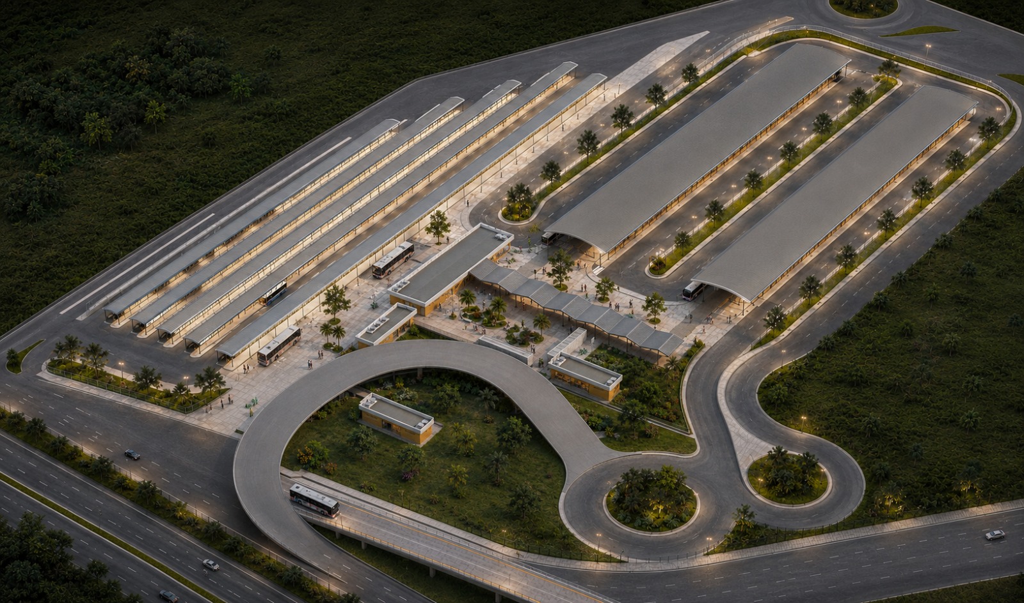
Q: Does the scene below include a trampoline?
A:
No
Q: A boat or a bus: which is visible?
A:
bus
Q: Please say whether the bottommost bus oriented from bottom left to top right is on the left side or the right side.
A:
left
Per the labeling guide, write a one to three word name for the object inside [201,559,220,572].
vehicle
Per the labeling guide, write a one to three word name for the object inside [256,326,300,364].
bus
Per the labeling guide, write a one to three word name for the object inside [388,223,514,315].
building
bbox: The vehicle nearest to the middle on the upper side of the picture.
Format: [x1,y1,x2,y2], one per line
[540,231,562,245]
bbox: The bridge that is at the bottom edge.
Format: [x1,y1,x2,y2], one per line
[281,470,625,603]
